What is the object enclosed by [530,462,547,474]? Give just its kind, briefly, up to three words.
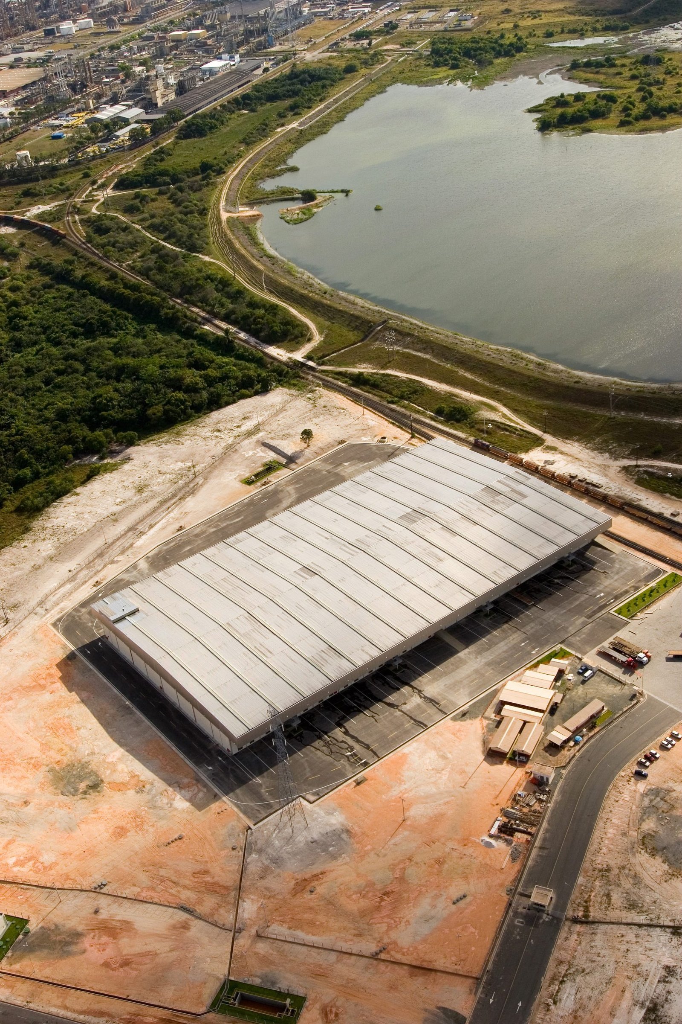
rail car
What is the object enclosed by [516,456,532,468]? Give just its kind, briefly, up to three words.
rail car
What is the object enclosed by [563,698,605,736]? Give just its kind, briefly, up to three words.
shed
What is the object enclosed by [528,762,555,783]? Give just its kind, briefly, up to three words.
building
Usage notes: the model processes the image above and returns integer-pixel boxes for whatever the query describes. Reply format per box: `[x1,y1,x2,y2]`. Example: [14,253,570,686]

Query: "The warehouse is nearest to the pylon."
[90,437,622,754]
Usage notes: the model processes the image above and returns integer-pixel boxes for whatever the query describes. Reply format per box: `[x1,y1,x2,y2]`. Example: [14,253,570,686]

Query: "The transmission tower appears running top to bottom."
[268,708,307,833]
